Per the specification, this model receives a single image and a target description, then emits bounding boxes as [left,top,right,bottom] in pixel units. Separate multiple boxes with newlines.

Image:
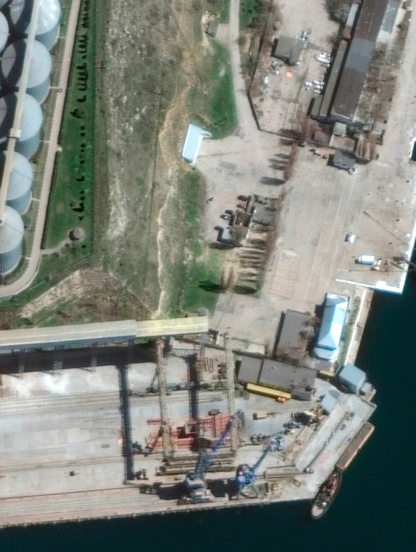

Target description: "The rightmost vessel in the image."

[336,420,374,472]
